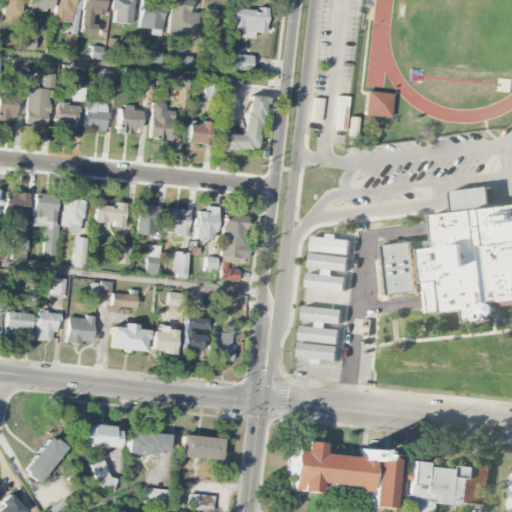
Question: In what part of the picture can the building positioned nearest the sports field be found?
top right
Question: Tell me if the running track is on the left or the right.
right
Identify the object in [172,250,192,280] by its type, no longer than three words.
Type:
building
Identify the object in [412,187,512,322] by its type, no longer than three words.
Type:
building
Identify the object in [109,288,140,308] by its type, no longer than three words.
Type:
house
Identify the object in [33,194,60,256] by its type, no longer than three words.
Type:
house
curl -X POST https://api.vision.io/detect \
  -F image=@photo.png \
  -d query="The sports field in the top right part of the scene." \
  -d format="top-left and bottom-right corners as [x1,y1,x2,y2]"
[392,0,512,109]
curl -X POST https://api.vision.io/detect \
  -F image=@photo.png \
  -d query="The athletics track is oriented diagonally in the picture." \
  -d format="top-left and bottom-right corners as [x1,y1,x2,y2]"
[366,0,512,124]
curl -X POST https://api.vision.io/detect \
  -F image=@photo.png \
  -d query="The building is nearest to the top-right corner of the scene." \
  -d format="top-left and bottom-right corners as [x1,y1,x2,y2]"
[366,92,396,118]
